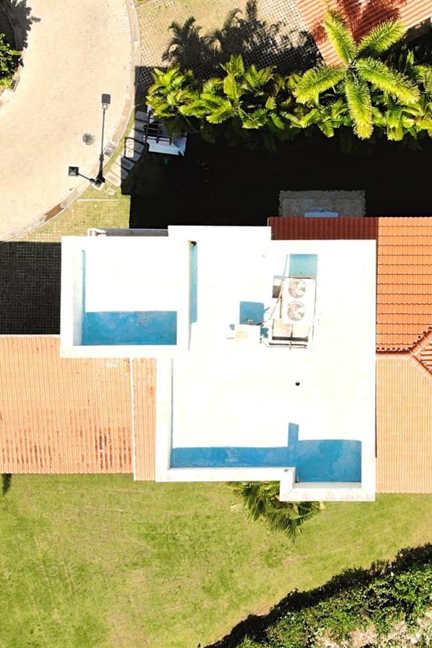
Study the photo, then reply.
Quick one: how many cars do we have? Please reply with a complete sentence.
Not a single car can be seen.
